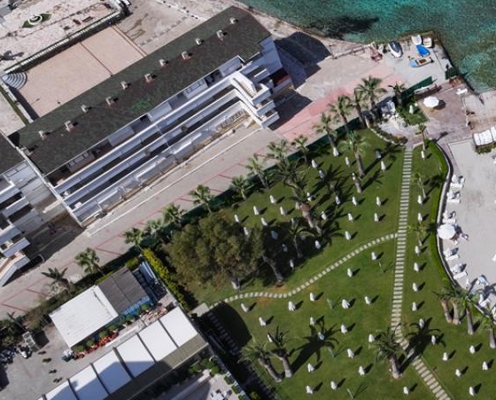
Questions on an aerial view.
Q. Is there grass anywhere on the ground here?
Yes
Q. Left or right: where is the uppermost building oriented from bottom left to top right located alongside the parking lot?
left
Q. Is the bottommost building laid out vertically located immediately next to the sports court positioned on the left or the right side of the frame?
left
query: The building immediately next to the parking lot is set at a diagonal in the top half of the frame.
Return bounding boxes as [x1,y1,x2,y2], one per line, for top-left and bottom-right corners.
[8,7,291,228]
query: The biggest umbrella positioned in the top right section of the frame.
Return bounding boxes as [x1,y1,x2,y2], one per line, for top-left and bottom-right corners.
[423,100,438,114]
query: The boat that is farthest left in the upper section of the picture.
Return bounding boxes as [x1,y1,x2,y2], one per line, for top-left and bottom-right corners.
[386,37,403,57]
